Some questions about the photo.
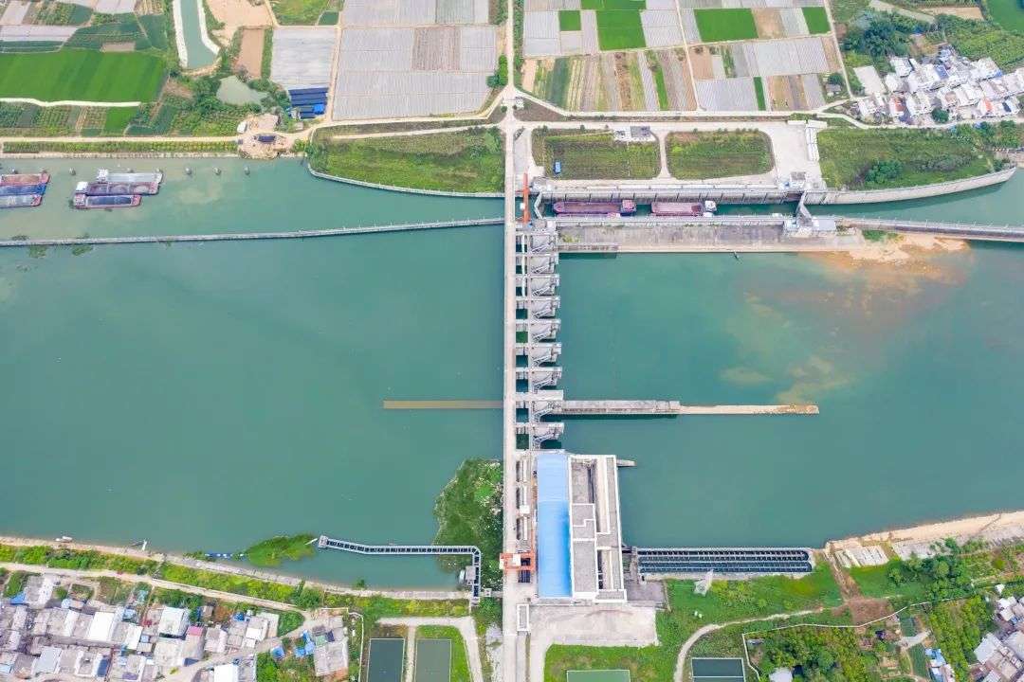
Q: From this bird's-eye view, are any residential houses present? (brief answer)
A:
Yes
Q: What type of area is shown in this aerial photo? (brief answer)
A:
port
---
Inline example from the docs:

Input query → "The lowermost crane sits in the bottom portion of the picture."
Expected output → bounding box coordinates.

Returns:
[498,547,535,574]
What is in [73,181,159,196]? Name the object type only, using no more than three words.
ship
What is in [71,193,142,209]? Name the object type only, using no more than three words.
ship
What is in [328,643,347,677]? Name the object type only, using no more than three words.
house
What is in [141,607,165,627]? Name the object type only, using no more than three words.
house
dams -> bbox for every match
[503,129,562,682]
